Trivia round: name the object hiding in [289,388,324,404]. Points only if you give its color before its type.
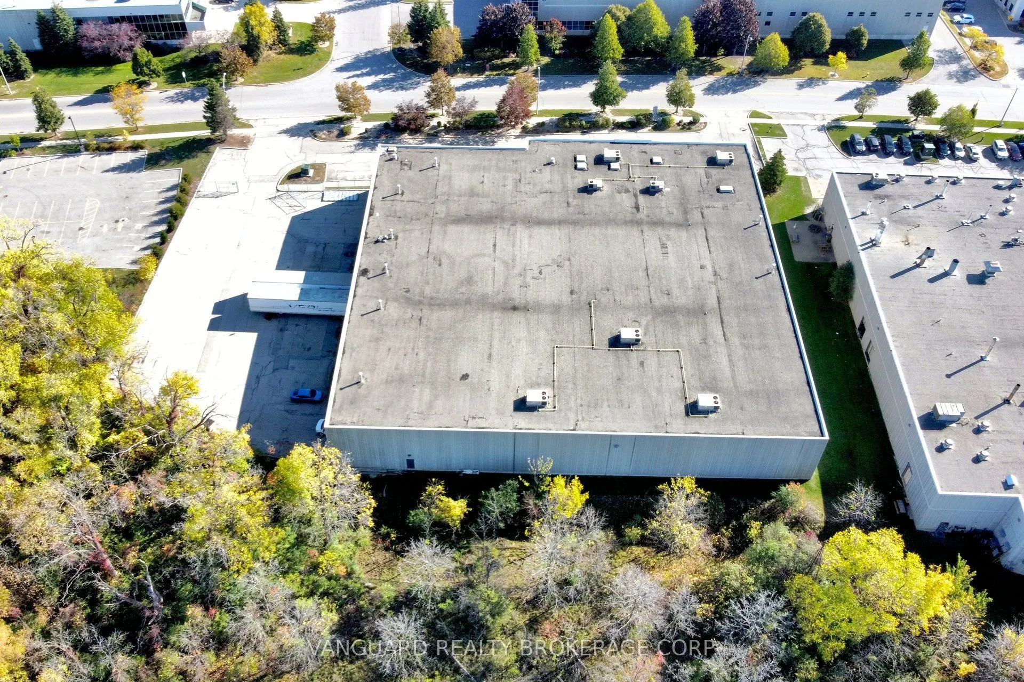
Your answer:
blue car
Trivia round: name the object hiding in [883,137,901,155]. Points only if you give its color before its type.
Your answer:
blue car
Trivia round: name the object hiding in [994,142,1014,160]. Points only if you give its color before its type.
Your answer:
white car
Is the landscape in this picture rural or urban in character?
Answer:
urban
